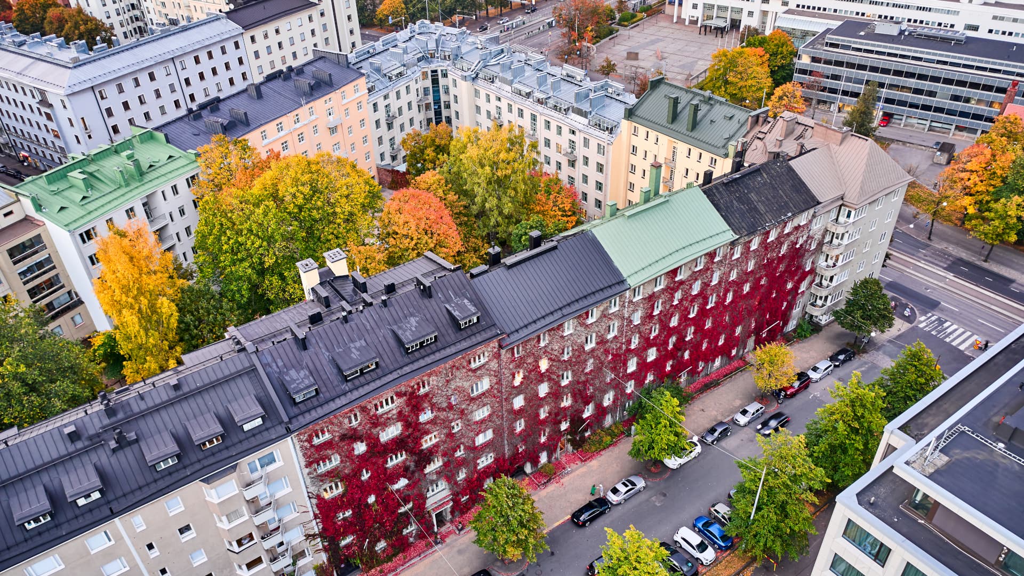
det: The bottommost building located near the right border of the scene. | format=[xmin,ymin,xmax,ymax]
[812,318,1024,576]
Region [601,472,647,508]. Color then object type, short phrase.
gray car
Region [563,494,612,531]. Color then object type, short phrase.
black car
